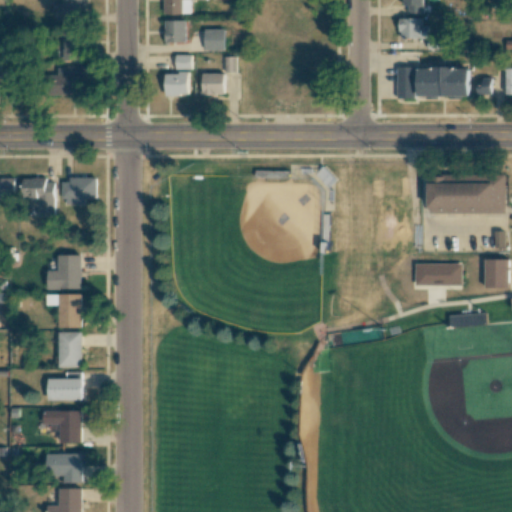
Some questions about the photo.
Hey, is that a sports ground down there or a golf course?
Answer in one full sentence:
What you see here is a sports ground.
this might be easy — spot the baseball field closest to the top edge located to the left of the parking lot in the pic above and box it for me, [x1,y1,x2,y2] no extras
[170,176,322,334]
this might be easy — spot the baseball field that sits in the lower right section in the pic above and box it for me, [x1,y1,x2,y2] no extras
[298,320,512,512]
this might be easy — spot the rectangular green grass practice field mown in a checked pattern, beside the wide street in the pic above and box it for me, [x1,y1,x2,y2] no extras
[156,326,311,512]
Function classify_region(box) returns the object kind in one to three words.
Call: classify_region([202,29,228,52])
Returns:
building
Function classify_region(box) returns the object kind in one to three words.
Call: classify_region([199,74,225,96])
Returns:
house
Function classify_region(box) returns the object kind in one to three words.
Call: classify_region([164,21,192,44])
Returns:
house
